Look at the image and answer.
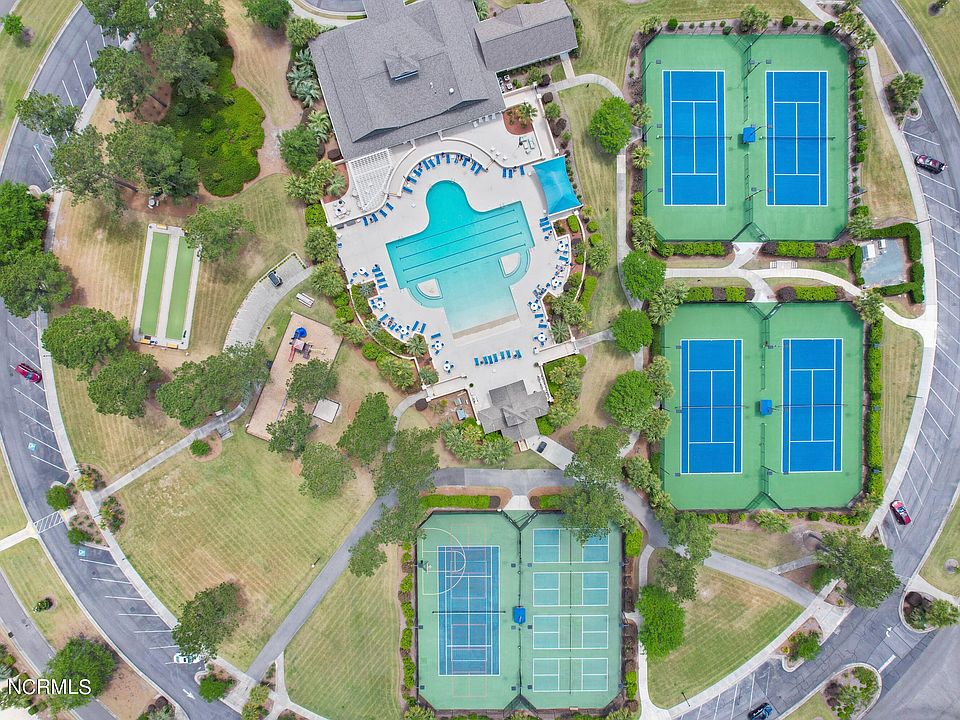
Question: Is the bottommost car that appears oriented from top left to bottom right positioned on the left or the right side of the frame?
right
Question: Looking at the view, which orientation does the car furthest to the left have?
diagonally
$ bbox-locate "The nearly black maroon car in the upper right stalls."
[915,156,944,175]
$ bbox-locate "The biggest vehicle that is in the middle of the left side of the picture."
[17,362,43,383]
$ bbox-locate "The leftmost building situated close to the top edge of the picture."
[308,0,578,161]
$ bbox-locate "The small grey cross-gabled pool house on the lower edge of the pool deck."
[478,380,549,444]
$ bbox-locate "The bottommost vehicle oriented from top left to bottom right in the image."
[889,499,911,527]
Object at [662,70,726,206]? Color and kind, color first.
blue tennis court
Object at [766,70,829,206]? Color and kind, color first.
blue tennis court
